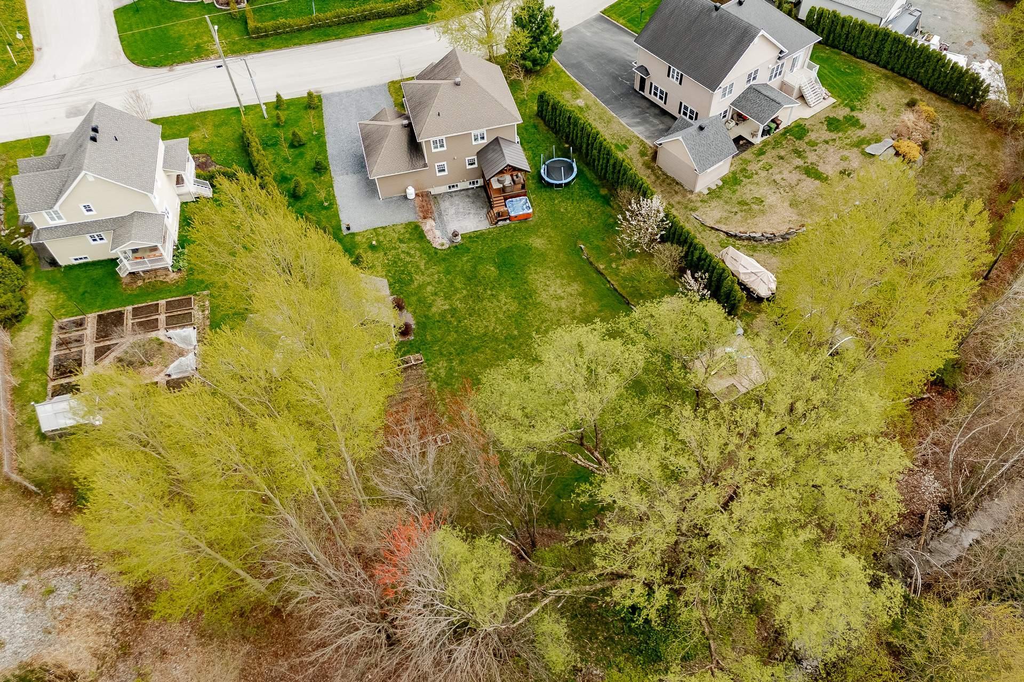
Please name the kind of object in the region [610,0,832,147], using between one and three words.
house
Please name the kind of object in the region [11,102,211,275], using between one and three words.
house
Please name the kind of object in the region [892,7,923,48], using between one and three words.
shed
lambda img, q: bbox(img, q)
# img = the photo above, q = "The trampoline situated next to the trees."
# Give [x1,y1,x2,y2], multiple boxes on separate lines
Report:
[541,144,577,190]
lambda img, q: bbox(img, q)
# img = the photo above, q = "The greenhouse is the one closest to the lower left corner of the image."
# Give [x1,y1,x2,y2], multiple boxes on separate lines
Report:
[35,383,107,435]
